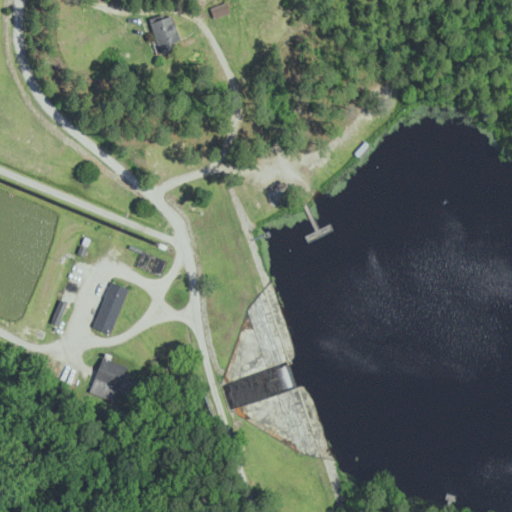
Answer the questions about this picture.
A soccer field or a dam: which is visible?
dam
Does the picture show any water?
Yes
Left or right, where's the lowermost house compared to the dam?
to its left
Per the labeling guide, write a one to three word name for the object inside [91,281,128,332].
building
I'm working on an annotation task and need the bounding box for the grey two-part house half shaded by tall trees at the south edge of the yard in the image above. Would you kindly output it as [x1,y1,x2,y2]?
[86,356,127,400]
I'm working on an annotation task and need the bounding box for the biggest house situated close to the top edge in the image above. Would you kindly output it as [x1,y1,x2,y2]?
[146,14,181,51]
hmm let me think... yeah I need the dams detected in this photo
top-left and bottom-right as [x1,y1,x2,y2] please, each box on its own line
[223,283,331,458]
